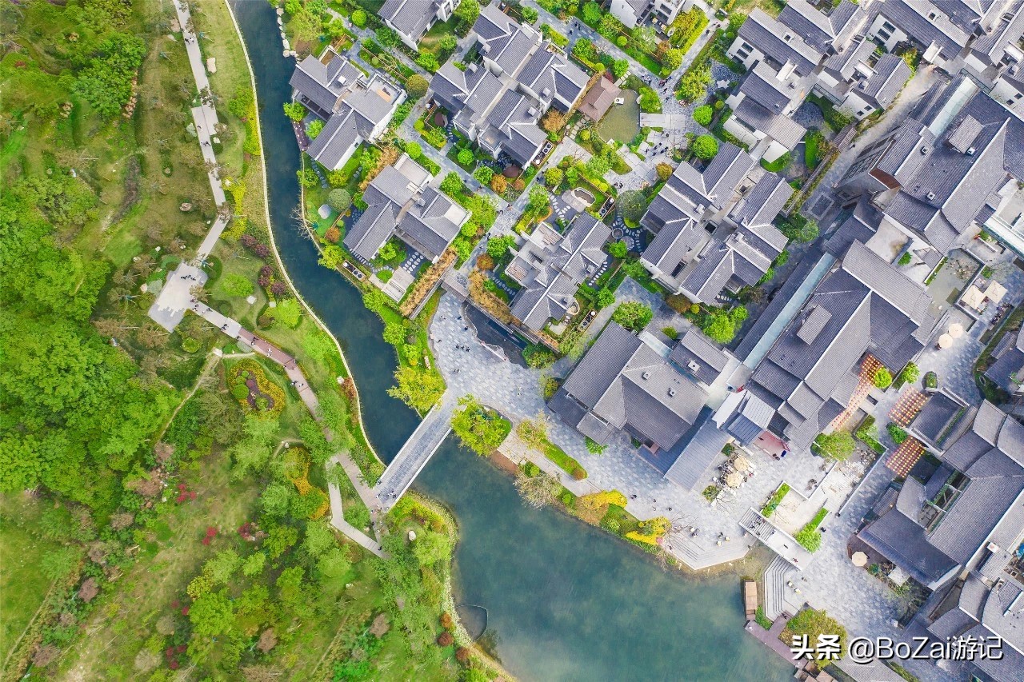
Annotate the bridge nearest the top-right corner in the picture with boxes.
[639,113,685,130]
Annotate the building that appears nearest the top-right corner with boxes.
[867,0,1024,98]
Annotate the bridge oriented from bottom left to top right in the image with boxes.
[372,397,455,512]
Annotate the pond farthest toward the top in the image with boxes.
[596,90,640,147]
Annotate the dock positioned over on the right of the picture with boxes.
[745,611,805,668]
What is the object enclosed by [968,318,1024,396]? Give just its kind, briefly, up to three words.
house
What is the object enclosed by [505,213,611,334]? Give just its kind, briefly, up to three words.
house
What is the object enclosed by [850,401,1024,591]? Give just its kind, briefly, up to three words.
building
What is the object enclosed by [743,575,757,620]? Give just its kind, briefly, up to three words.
boat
